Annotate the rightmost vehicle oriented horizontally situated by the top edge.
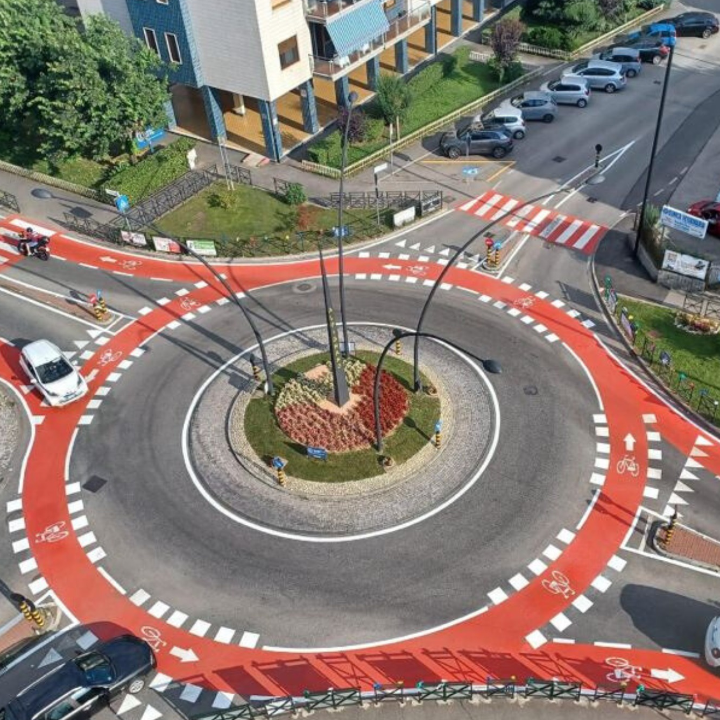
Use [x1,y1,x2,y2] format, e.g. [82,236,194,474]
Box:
[660,8,720,38]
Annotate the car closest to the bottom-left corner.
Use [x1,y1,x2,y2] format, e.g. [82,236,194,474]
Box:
[0,633,162,720]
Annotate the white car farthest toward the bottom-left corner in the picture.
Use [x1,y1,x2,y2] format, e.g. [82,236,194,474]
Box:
[14,324,85,397]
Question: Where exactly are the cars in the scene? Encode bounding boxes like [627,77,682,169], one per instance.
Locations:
[660,8,720,38]
[586,42,643,76]
[0,633,162,720]
[494,87,563,123]
[611,31,670,64]
[461,103,534,139]
[549,56,627,93]
[534,72,594,107]
[687,203,720,235]
[14,324,85,397]
[620,17,683,49]
[437,117,516,158]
